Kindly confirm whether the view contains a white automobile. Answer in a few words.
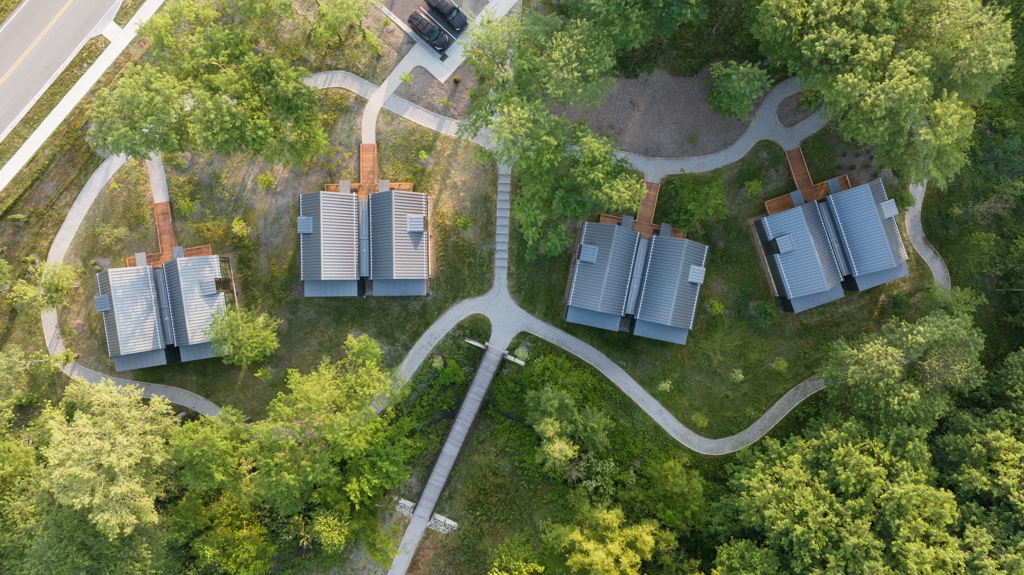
No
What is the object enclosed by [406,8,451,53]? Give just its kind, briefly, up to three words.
car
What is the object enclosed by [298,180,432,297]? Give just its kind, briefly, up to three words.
building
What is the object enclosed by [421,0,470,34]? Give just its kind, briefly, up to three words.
truck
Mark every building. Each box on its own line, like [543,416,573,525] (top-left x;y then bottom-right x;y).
[749,176,910,313]
[298,180,432,297]
[565,215,709,343]
[93,246,244,370]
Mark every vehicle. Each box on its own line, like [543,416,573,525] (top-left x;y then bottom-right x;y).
[406,8,451,53]
[421,0,470,34]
